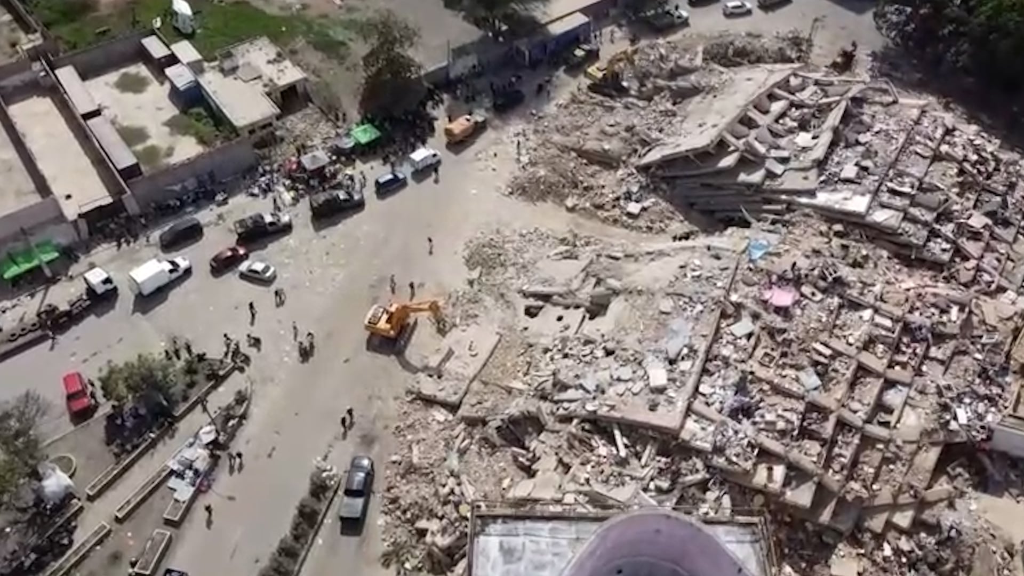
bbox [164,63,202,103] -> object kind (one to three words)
shipping container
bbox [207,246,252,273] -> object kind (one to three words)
car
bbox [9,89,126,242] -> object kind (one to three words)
building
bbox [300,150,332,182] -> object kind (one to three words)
tent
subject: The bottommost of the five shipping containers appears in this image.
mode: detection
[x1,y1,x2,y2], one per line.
[87,116,147,184]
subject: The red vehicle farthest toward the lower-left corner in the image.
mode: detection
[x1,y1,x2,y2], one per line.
[60,371,95,419]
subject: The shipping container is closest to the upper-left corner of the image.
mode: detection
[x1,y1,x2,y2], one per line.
[55,65,103,127]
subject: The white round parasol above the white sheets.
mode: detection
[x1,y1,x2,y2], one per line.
[199,425,219,445]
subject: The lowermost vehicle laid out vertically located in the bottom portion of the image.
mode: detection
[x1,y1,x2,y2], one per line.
[342,458,372,520]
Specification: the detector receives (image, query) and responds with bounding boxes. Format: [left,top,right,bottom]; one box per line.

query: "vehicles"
[562,37,604,68]
[236,262,280,284]
[60,371,95,419]
[372,172,411,195]
[230,209,294,246]
[441,105,491,144]
[642,8,691,36]
[146,562,204,576]
[584,46,633,101]
[720,1,754,17]
[0,276,119,355]
[157,221,208,253]
[362,314,445,353]
[342,458,372,520]
[305,184,368,220]
[207,246,252,273]
[405,142,445,170]
[123,251,196,294]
